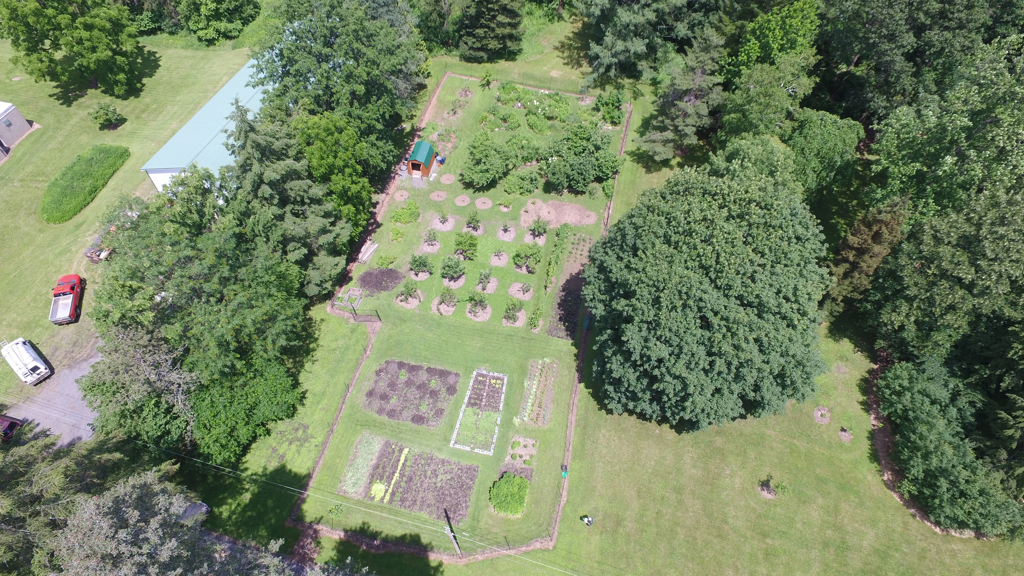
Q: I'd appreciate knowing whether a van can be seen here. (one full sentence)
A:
Yes, looking at the shot, I can spot a van.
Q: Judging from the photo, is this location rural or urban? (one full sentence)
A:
From above, the setting appears rural.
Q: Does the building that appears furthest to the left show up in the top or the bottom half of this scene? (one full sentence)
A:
The top half of the photo is where the building that appears furthest to the left is.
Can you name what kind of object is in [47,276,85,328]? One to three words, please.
truck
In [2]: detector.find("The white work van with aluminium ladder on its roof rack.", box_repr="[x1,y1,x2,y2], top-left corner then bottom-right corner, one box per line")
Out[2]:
[1,335,49,384]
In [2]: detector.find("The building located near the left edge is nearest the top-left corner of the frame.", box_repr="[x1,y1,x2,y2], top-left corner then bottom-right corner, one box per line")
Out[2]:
[0,102,31,158]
